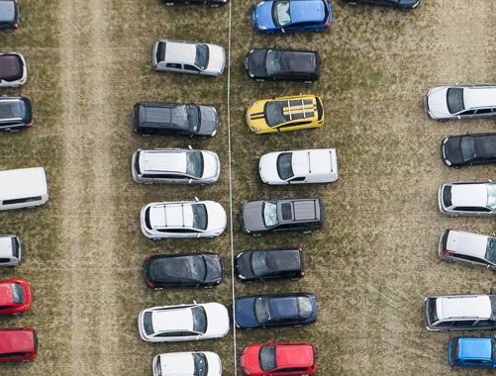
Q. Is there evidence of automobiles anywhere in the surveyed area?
Yes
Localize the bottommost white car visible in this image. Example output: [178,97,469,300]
[153,348,222,376]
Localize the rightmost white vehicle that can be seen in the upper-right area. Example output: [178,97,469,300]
[426,82,496,121]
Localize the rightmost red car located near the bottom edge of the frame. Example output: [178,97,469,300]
[240,341,318,376]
